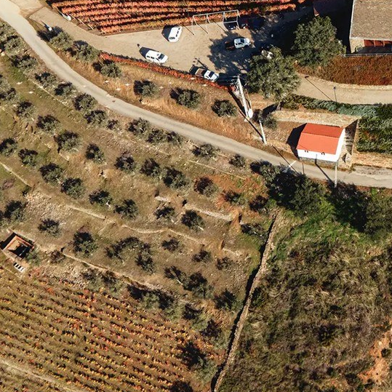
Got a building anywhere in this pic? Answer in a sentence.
Yes, a building appears in the view.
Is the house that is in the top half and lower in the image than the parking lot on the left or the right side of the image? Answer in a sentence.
You can find the house that is in the top half and lower in the image than the parking lot on the right side of the picture.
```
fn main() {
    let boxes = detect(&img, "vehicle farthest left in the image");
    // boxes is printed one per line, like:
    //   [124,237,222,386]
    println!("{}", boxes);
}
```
[142,47,167,64]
